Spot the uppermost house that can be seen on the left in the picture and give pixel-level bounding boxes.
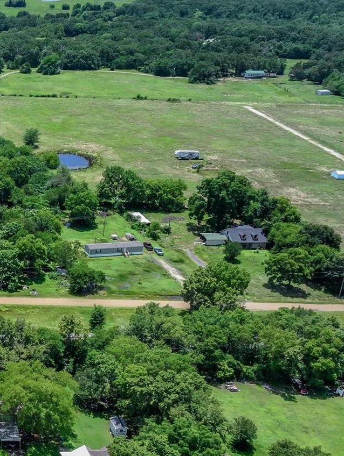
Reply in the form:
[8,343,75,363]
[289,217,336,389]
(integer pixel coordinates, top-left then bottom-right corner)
[84,241,143,260]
